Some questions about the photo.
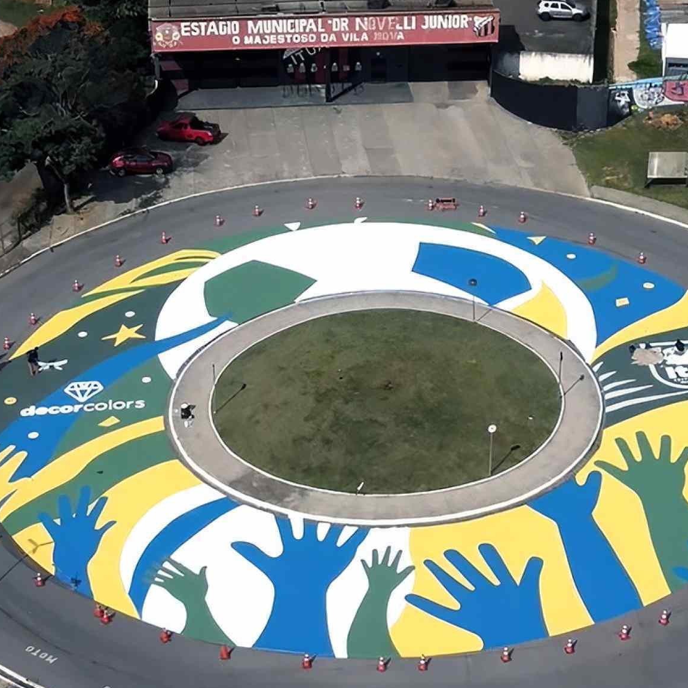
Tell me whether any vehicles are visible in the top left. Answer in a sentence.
Yes, there is a vehicle in the top left.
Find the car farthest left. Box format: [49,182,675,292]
[110,144,172,176]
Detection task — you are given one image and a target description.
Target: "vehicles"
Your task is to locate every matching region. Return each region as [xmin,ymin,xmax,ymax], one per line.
[110,144,172,176]
[157,113,219,142]
[537,0,589,19]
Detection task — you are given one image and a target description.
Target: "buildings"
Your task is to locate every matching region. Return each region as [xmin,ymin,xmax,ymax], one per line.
[661,0,688,74]
[147,0,502,107]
